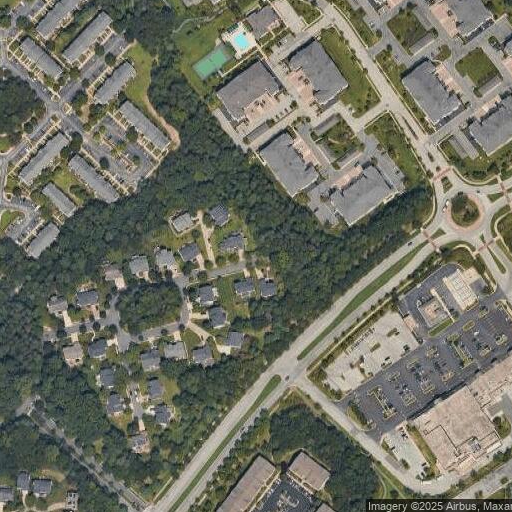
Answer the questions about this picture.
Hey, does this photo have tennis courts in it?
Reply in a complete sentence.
Yes, the image includes a tennis court.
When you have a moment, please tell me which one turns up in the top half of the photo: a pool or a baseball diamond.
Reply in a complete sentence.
Visible in the top half of the photo is a pool.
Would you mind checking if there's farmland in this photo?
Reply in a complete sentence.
No, farmland can't be seen anywhere here.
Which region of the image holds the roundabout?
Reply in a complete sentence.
Look in the right portion of the view to spot the roundabout.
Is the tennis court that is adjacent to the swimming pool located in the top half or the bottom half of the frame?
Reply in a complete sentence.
It is in the top half that the tennis court that is adjacent to the swimming pool appears.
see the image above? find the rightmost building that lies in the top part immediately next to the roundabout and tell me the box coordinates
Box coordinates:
[469,96,512,155]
